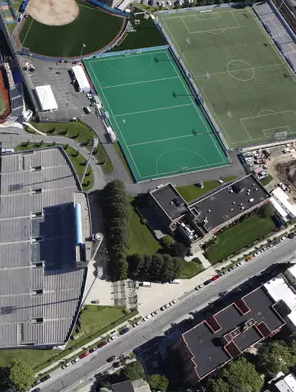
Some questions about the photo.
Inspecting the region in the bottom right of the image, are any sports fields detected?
No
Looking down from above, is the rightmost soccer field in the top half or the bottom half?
top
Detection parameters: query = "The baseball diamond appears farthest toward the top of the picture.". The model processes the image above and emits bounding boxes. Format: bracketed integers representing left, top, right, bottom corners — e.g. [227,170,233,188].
[20,0,125,57]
